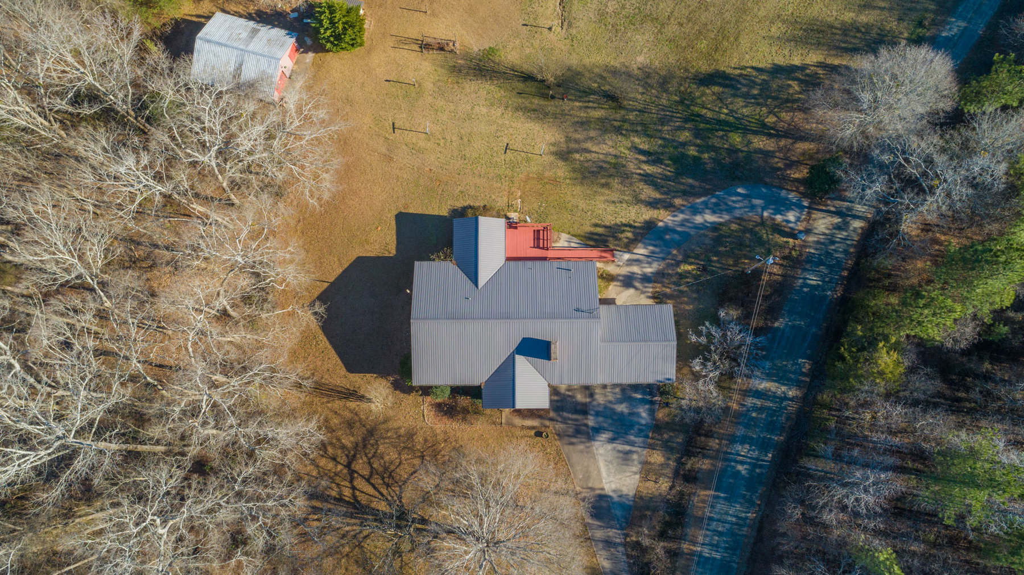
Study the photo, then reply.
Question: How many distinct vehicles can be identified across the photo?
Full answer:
The count of vehicles is 0.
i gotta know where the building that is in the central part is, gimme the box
[409,215,677,409]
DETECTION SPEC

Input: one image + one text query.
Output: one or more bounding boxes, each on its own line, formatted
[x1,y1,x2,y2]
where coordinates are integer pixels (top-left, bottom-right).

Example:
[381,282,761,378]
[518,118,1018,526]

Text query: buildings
[193,12,303,107]
[409,215,677,409]
[343,0,366,15]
